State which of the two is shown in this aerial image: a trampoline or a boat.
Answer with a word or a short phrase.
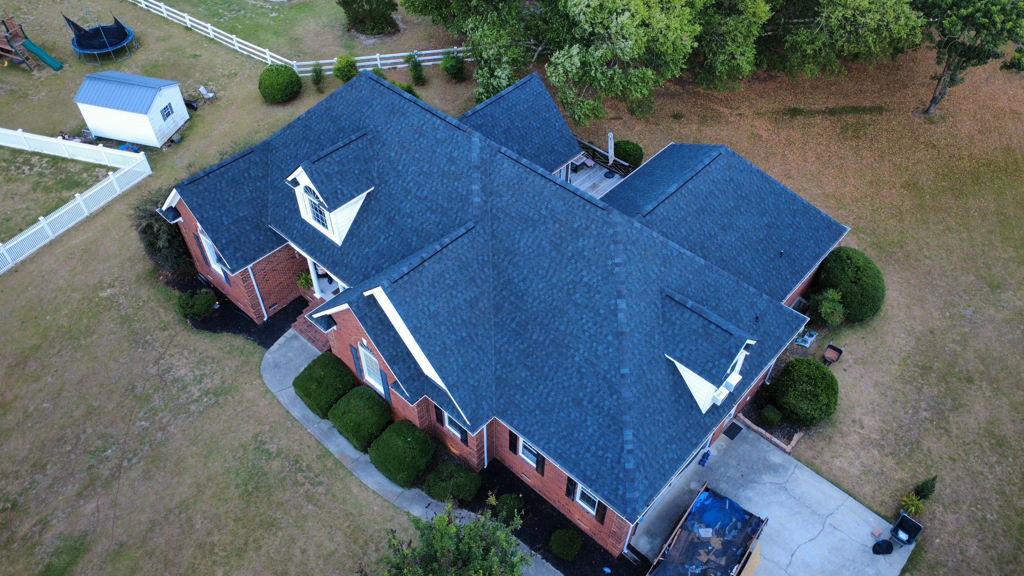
trampoline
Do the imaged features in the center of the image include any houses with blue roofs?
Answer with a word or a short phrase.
Yes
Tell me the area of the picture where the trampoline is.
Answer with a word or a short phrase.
top left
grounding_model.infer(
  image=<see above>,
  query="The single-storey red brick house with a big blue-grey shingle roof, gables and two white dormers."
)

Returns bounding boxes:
[153,71,853,562]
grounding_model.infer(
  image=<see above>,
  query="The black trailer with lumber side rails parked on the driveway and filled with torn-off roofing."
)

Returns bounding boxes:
[646,474,772,576]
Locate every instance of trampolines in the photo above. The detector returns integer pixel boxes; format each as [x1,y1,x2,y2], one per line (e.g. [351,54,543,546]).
[59,9,139,69]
